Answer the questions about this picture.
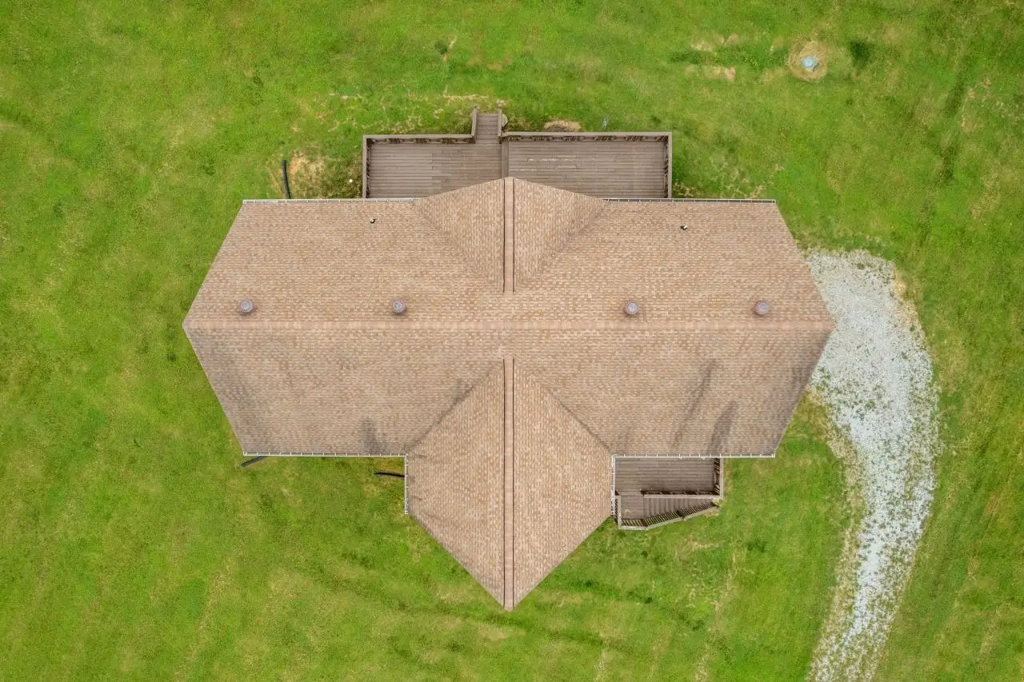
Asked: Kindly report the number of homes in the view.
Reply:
one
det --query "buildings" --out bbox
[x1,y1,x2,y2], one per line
[182,176,835,612]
